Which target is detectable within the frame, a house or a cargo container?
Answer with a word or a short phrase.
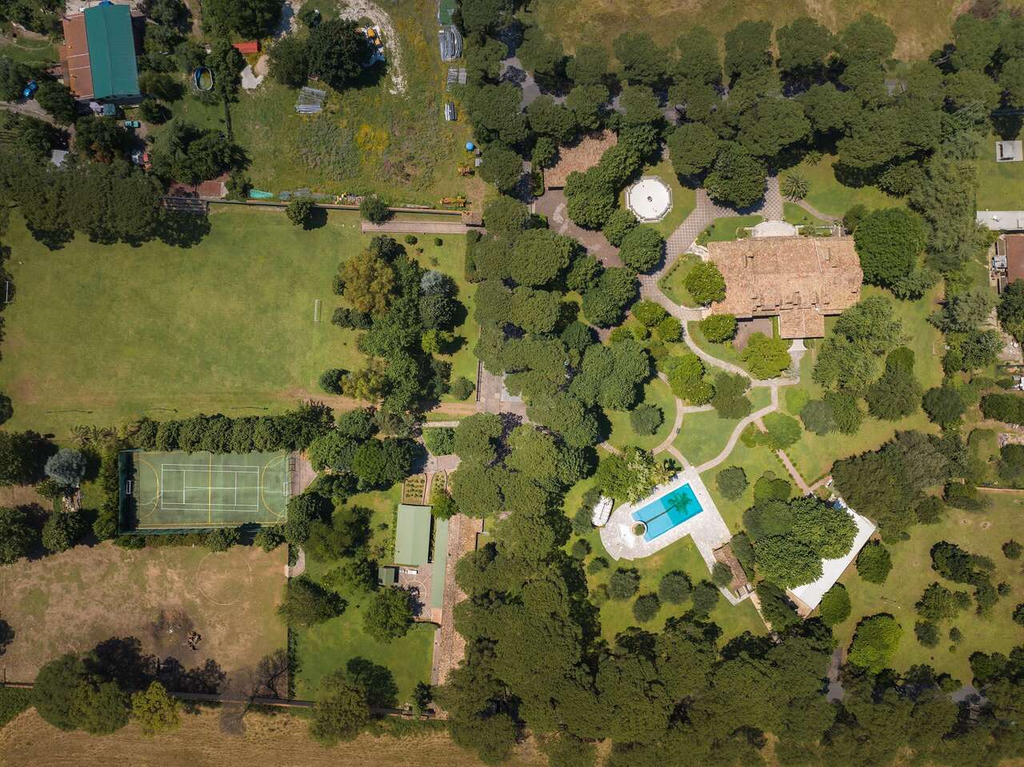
house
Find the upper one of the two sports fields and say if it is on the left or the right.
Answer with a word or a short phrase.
left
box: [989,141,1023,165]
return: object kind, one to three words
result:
building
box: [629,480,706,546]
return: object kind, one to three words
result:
swimming pool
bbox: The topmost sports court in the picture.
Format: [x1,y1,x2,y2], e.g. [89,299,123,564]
[126,449,288,531]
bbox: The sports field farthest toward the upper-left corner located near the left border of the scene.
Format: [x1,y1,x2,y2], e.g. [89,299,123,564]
[0,234,343,424]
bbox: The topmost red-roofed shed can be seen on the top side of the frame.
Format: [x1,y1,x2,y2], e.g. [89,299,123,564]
[233,42,262,58]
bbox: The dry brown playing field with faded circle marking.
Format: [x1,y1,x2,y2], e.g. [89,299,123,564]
[0,551,282,677]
